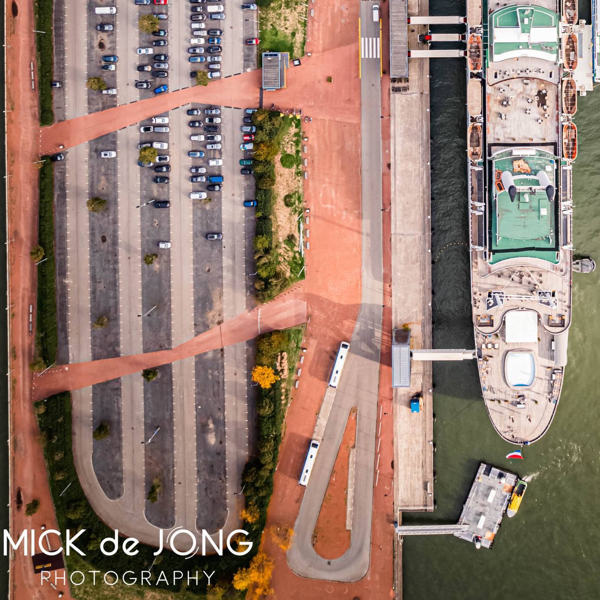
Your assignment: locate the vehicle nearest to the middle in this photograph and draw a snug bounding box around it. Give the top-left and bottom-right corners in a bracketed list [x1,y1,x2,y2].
[329,340,349,387]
